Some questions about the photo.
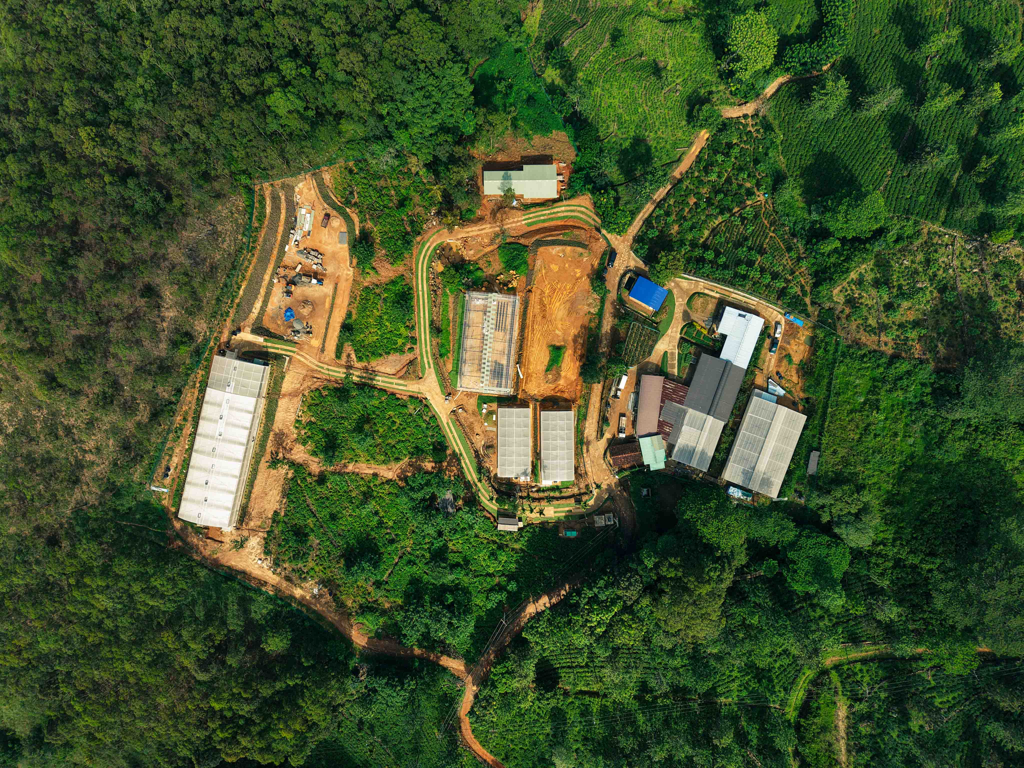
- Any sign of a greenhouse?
Yes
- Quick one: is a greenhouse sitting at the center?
Yes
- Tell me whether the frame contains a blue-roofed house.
Yes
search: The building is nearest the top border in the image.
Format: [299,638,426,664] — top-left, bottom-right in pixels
[484,165,557,201]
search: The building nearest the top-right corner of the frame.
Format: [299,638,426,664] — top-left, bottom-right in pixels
[716,306,765,369]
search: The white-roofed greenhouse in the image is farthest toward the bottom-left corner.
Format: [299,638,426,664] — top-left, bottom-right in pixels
[178,355,275,528]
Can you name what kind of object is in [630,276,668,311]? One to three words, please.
house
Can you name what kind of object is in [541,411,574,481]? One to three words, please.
greenhouse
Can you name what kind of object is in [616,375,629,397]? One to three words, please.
vehicle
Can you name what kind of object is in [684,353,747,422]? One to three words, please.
building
